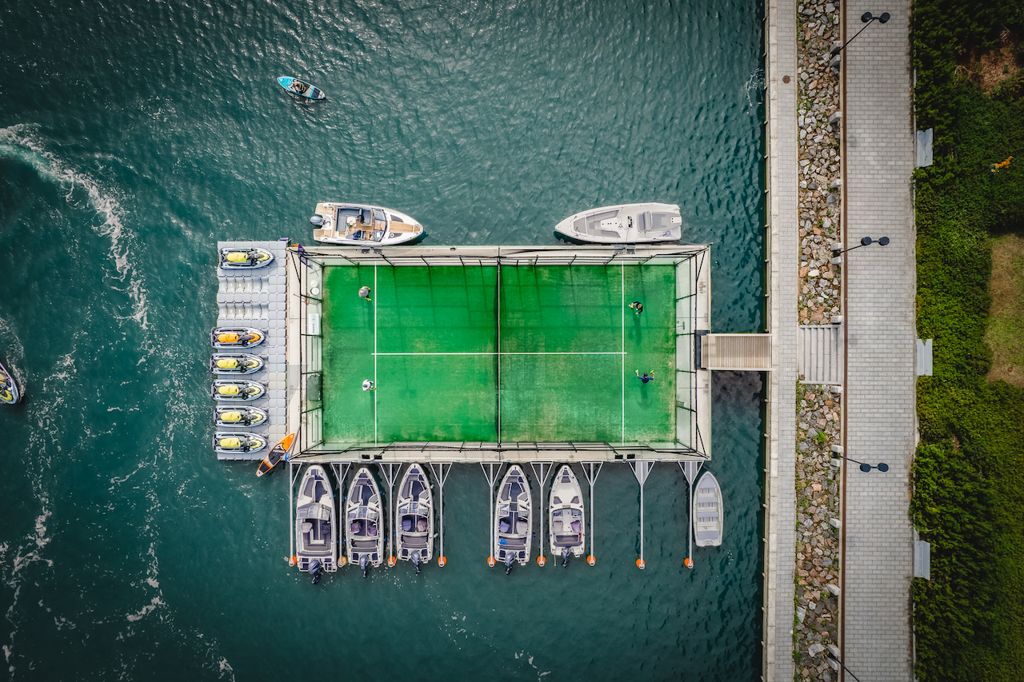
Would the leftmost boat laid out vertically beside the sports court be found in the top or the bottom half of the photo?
bottom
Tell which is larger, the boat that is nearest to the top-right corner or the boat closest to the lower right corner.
the boat that is nearest to the top-right corner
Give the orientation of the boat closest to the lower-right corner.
up and down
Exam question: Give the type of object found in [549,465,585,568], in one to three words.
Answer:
boat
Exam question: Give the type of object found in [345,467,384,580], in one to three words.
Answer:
boat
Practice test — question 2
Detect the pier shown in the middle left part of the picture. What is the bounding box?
[218,241,290,459]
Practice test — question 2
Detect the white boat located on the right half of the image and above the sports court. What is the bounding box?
[554,202,681,244]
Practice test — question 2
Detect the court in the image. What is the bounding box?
[288,249,708,459]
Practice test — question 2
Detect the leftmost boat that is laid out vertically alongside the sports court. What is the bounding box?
[296,464,338,585]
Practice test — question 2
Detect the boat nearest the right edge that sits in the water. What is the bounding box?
[692,471,723,547]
